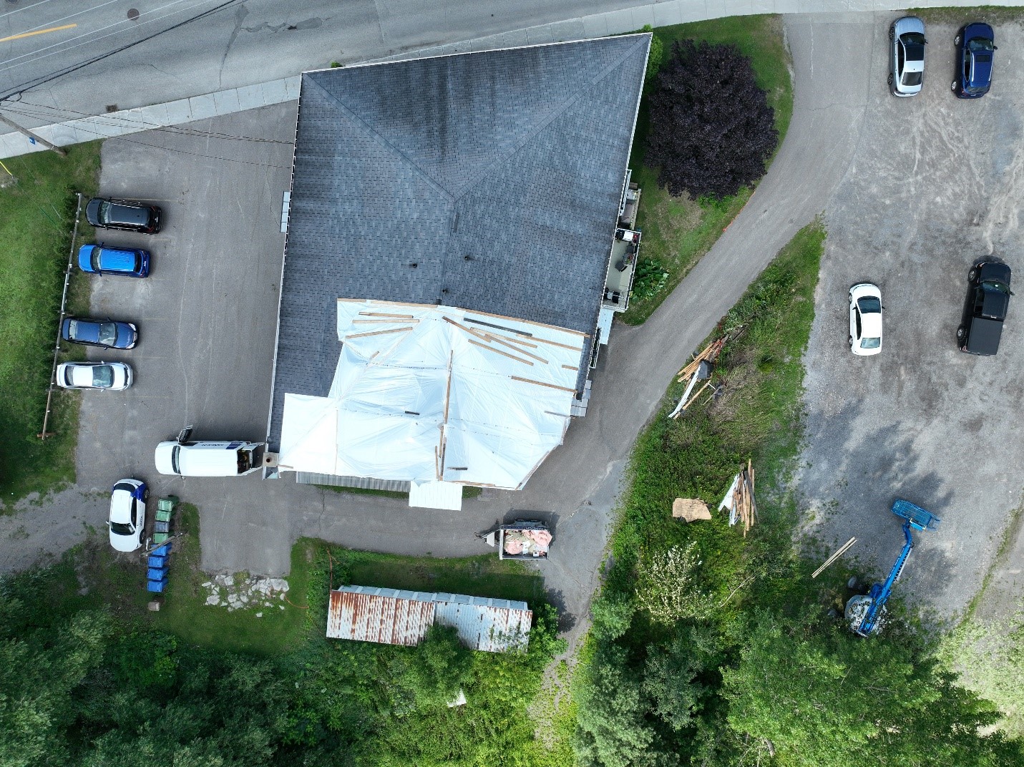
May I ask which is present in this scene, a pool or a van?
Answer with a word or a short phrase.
van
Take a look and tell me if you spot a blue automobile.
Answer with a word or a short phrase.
Yes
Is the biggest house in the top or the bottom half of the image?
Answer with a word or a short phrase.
top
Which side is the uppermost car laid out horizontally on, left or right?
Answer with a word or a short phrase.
left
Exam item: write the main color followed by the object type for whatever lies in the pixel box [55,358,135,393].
white car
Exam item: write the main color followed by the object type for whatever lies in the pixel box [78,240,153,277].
blue car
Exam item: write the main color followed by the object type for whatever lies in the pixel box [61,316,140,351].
blue car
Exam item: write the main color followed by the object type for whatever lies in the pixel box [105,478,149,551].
white car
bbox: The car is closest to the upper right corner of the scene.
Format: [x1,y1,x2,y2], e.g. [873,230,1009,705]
[954,23,1001,99]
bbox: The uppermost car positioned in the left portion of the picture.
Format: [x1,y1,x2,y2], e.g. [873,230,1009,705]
[86,195,164,234]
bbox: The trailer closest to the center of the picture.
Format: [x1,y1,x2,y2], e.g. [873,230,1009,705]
[473,521,549,564]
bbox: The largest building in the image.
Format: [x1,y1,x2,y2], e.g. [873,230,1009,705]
[263,30,654,487]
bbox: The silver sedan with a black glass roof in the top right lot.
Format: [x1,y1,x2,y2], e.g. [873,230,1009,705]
[888,19,931,97]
